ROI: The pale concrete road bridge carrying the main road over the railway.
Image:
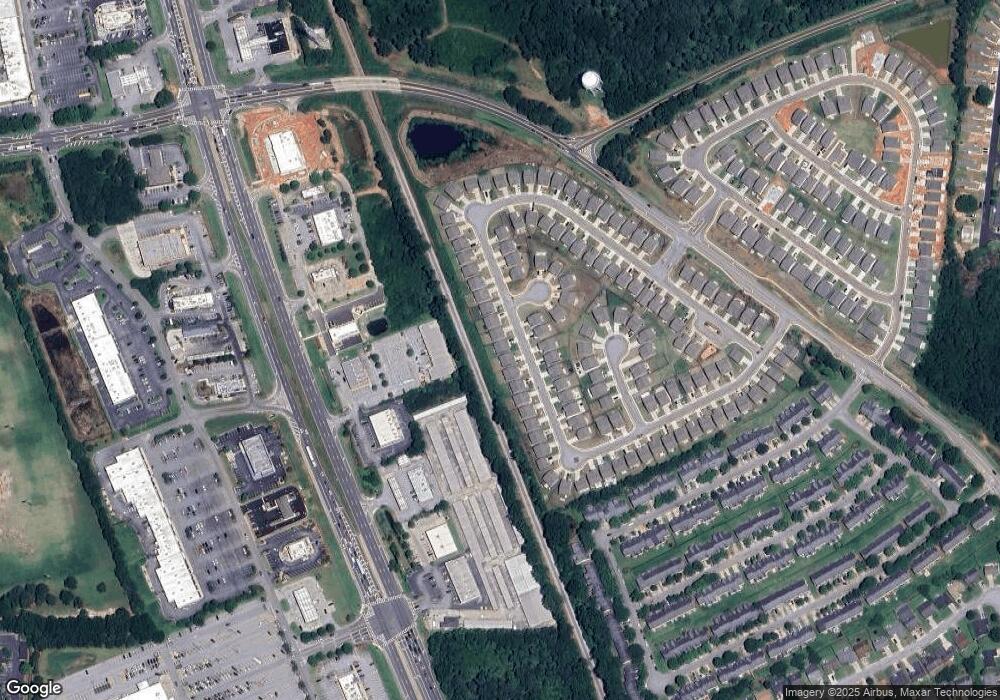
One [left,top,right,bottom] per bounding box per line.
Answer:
[332,75,403,94]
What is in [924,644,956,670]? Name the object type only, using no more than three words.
house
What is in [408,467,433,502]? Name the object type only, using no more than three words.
building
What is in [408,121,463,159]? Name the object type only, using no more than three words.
pond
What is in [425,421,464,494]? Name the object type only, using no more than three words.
shed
